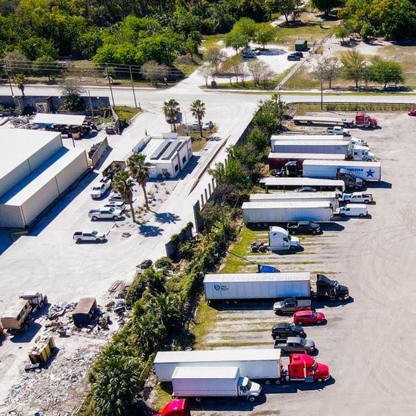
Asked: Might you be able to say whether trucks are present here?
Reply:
Yes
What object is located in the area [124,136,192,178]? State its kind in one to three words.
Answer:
building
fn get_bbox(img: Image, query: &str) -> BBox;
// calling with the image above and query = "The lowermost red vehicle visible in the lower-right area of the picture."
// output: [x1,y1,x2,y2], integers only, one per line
[270,349,335,384]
